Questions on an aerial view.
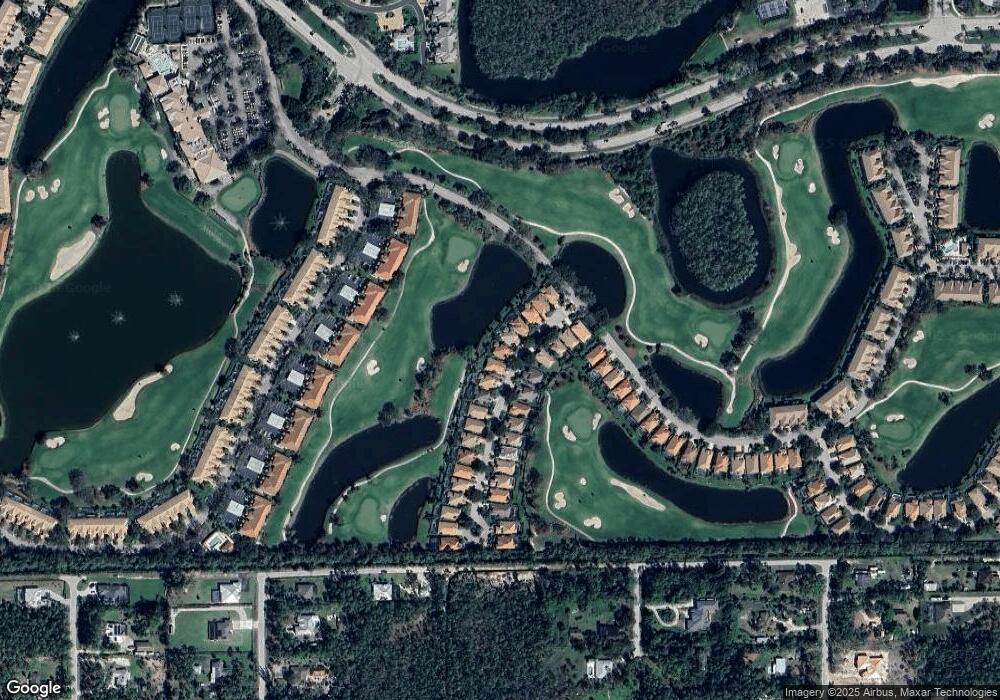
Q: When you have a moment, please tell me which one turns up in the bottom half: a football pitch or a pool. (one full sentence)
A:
Visible in the bottom half is a pool.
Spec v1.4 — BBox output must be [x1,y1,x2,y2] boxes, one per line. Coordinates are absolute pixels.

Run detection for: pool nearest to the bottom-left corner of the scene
[202,532,232,552]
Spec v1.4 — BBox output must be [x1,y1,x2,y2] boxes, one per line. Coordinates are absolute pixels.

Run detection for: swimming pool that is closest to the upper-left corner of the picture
[146,45,182,76]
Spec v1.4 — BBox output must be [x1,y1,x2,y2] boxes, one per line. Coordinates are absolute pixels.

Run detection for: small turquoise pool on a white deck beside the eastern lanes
[944,235,969,257]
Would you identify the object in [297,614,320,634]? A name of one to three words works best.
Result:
shed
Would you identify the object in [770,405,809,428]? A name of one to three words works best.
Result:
building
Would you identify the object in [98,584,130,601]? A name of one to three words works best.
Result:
house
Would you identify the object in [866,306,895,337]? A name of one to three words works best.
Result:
building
